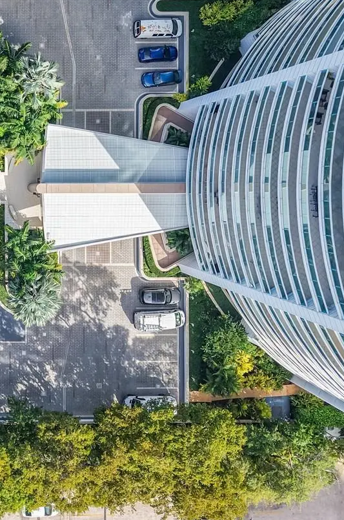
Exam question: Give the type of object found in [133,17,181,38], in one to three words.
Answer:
vehicle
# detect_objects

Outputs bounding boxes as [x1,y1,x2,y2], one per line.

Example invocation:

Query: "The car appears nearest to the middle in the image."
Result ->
[139,287,178,306]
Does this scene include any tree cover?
Yes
